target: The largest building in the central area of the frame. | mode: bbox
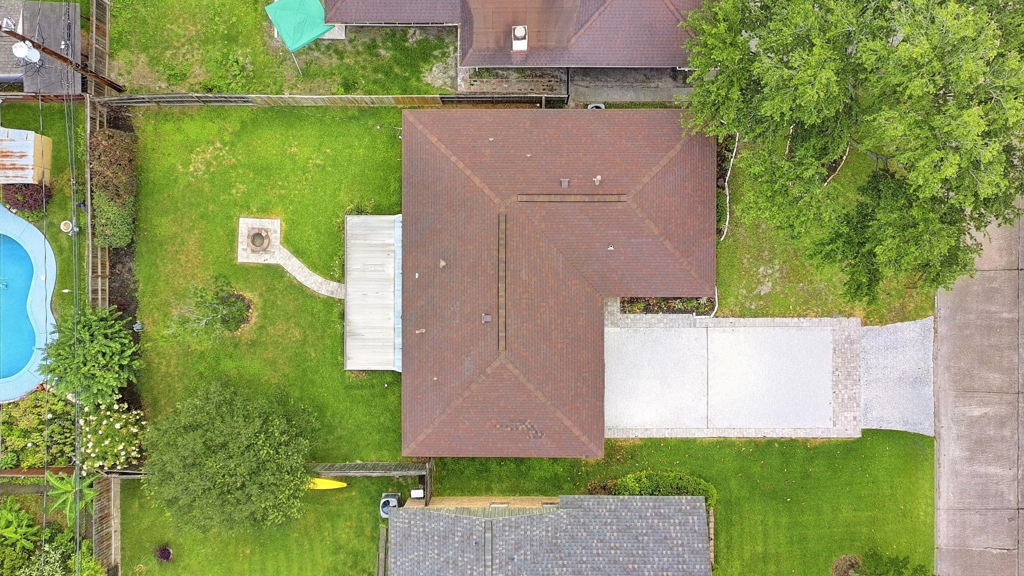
[400,107,718,459]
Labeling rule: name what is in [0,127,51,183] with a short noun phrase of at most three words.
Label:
shed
